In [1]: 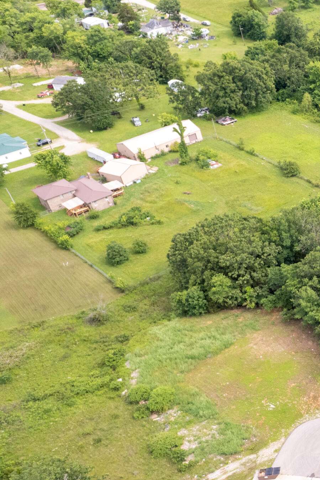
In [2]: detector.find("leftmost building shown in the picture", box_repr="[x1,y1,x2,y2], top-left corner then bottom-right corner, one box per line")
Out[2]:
[0,133,34,163]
